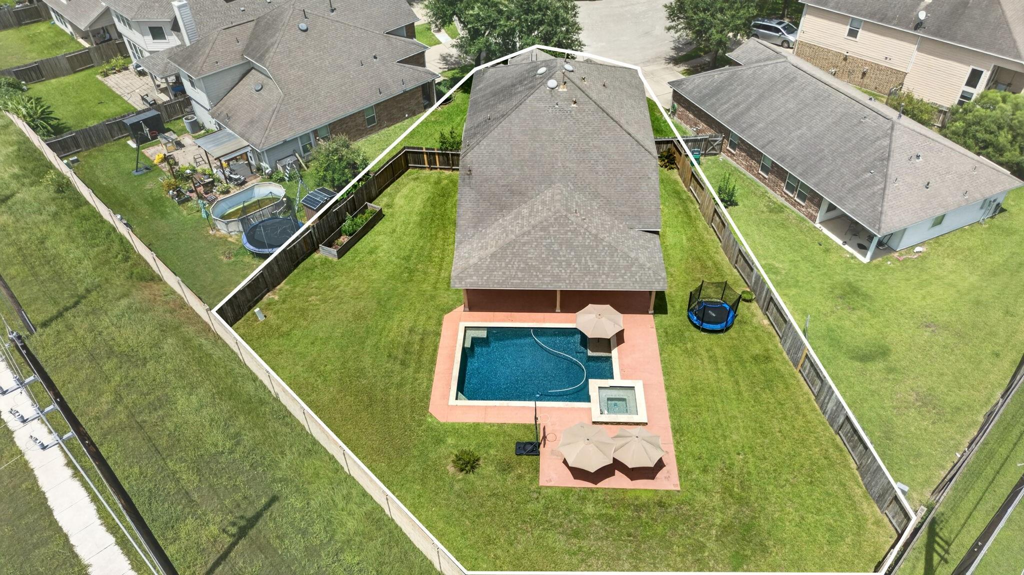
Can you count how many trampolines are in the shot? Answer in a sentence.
The picture shows 2 trampolines.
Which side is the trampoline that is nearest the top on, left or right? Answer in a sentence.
The trampoline that is nearest the top sits on the left side.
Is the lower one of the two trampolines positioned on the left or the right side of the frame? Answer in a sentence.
You can find the lower one of the two trampolines on the right side of the picture.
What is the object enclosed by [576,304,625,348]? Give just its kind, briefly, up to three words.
umbrella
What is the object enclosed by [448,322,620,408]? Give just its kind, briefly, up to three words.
swimming pool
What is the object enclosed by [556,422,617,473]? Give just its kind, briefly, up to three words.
umbrella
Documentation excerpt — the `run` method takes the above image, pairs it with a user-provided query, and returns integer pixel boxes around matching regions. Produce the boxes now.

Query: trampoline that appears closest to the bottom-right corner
[687,281,741,340]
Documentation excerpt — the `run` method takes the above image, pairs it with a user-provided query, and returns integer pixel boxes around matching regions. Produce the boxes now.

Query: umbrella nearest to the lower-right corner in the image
[610,425,664,468]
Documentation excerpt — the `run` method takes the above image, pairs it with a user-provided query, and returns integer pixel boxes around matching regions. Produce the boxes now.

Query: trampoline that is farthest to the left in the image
[235,200,301,258]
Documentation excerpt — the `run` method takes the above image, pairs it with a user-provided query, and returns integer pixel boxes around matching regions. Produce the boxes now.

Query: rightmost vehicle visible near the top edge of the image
[751,15,798,45]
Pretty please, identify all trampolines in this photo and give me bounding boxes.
[687,281,741,340]
[235,200,301,258]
